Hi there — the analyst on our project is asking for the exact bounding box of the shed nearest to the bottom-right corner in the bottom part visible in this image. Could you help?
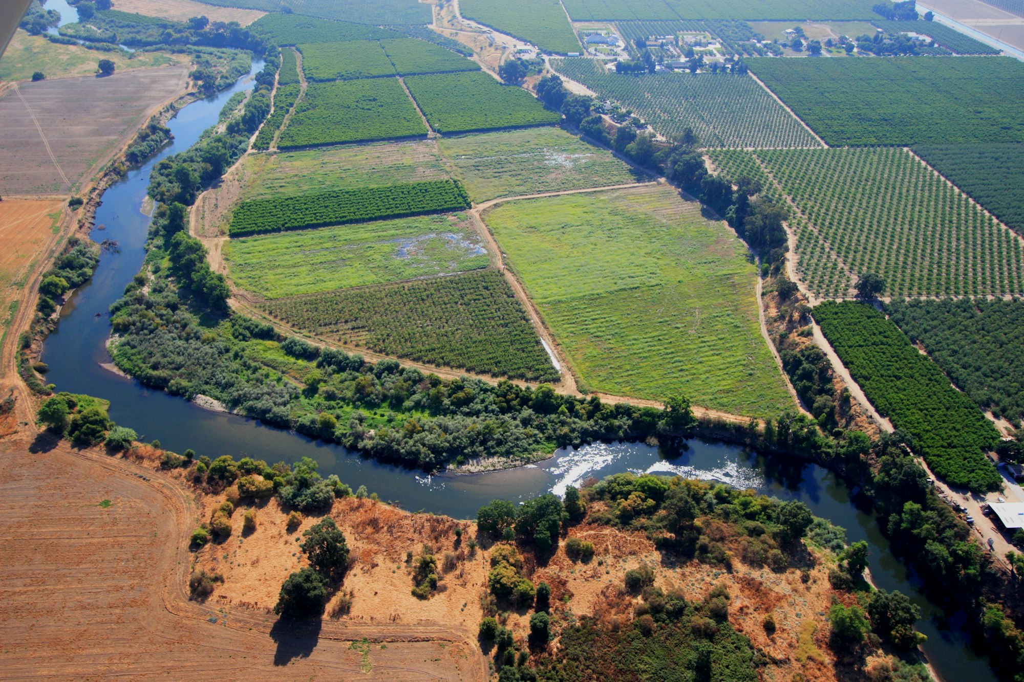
[983,504,1024,536]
